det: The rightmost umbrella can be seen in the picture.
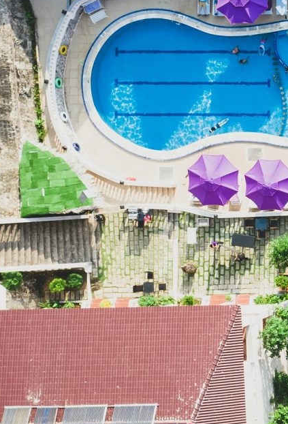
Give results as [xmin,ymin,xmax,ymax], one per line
[248,160,288,209]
